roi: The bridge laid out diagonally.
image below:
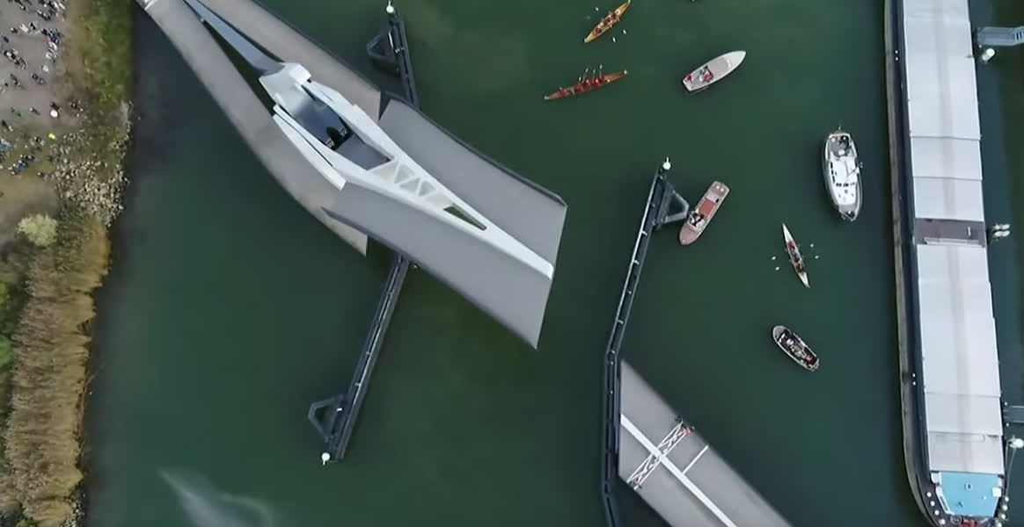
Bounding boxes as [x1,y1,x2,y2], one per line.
[136,0,792,527]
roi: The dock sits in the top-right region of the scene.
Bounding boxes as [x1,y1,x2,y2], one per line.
[974,24,1024,54]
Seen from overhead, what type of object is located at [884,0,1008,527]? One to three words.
ship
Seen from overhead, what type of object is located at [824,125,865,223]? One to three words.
boat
